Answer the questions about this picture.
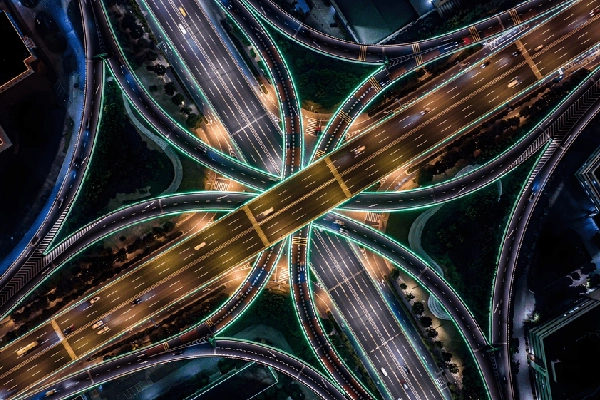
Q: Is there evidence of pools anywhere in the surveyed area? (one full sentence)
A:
No, the picture doesn't show any pool.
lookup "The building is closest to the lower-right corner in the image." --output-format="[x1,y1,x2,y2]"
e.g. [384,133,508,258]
[526,288,600,400]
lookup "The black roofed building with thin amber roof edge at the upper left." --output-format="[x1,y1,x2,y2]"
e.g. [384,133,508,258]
[0,0,47,108]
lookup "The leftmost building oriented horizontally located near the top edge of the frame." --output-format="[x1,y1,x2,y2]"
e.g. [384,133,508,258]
[335,0,438,46]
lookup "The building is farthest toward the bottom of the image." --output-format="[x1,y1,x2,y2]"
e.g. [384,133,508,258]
[187,358,281,400]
